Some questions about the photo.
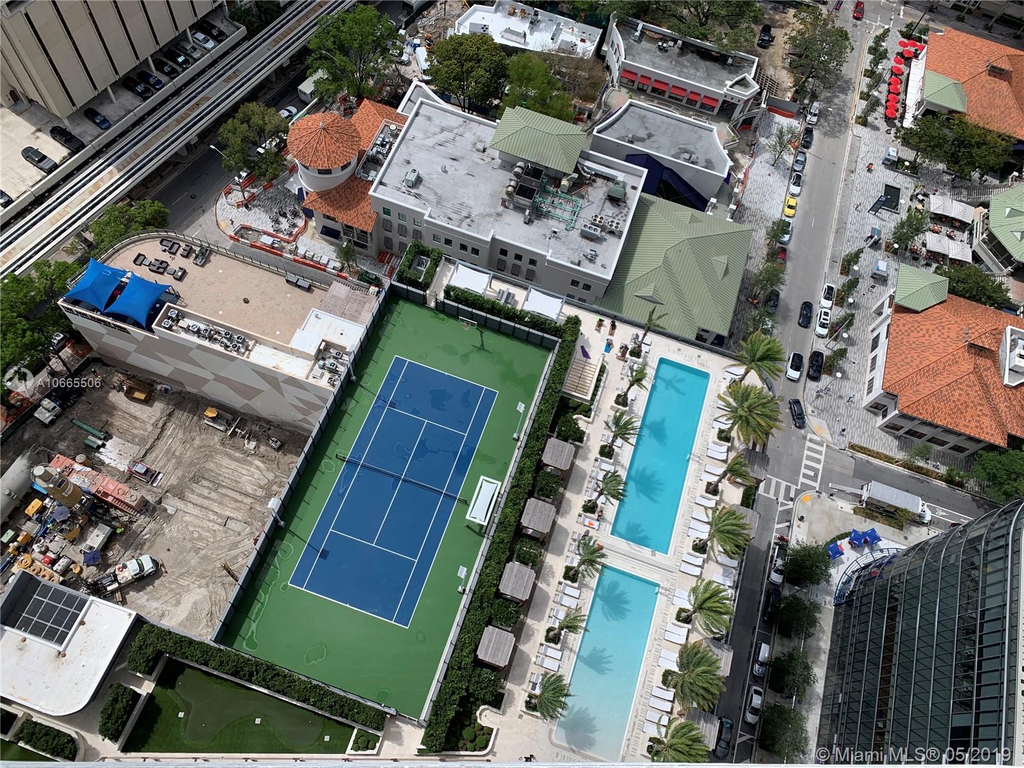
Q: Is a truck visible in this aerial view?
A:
Yes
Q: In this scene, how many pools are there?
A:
2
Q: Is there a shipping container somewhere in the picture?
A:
Yes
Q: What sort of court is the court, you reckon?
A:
tennis court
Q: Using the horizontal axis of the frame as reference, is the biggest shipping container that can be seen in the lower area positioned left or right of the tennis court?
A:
on its left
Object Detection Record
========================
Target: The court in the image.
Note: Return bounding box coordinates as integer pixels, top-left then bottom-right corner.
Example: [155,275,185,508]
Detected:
[217,293,555,721]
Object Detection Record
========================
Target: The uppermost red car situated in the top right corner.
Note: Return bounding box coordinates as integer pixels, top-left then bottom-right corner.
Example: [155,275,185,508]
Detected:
[852,1,864,19]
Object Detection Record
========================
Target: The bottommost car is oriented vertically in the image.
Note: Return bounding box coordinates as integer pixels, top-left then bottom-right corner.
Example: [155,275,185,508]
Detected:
[713,717,735,761]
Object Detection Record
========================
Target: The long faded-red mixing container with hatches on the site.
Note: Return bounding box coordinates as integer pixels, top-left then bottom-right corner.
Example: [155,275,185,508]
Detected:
[48,452,151,520]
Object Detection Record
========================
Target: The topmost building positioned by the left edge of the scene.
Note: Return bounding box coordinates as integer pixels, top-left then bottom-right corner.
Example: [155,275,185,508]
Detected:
[0,0,228,134]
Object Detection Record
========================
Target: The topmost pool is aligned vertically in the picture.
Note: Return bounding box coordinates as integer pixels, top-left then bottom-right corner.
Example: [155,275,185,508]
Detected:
[604,355,712,558]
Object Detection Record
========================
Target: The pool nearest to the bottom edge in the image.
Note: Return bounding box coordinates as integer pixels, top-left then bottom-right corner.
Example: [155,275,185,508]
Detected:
[546,564,665,762]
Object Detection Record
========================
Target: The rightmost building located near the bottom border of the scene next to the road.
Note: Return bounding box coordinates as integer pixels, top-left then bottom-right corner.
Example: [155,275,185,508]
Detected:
[820,493,1024,761]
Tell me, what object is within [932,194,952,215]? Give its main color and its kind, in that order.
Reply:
white umbrella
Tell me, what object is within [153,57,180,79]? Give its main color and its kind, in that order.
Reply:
black car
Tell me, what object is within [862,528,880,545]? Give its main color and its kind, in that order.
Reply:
blue umbrella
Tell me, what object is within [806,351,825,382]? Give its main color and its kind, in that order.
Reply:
black vehicle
